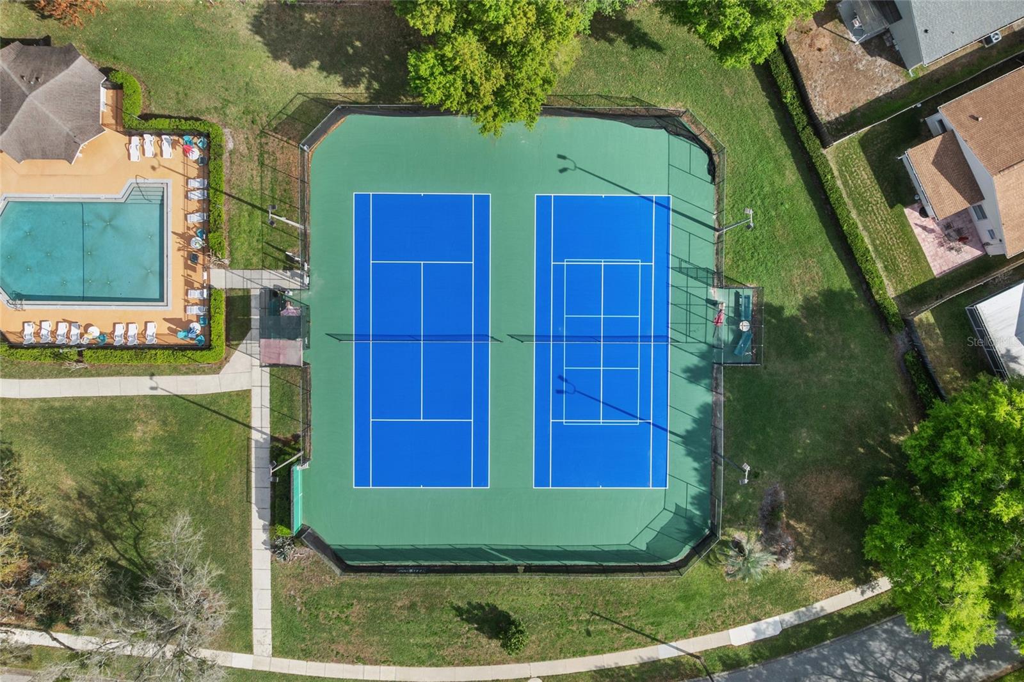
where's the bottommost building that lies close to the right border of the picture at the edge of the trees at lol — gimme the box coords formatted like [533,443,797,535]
[966,280,1024,402]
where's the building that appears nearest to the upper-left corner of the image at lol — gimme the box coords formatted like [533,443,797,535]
[0,42,109,164]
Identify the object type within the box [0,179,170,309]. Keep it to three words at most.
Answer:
swimming pool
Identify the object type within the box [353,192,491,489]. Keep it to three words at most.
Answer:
tennis court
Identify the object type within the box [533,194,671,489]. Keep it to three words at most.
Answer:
tennis court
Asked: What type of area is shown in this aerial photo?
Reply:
sports ground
